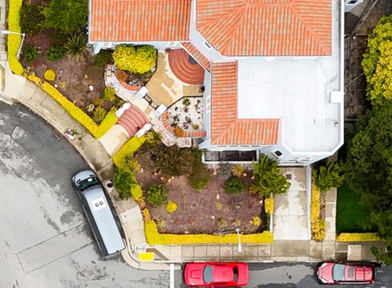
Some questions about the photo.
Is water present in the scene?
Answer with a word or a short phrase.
No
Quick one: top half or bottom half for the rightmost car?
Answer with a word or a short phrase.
bottom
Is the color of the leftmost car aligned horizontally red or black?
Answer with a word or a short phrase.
red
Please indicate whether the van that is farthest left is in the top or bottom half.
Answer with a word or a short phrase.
bottom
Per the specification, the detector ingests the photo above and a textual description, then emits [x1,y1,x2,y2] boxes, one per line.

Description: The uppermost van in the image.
[66,169,129,258]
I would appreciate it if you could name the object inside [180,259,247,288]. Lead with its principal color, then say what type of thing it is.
red car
